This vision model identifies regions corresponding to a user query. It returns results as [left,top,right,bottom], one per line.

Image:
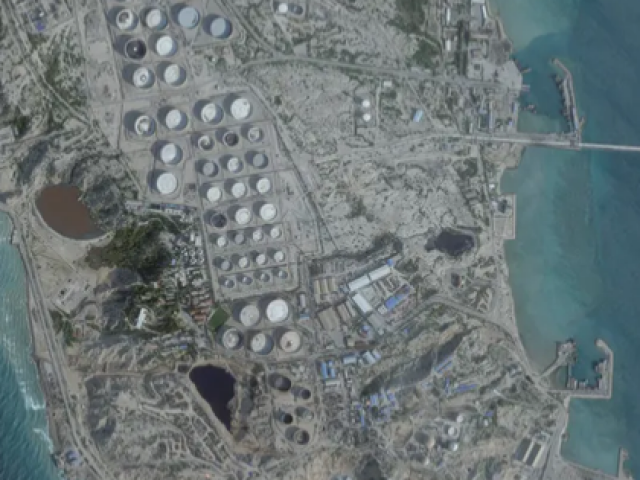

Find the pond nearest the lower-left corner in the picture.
[189,364,235,431]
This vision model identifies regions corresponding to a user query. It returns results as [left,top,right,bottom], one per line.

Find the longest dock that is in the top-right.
[552,57,584,133]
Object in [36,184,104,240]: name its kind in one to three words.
pond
